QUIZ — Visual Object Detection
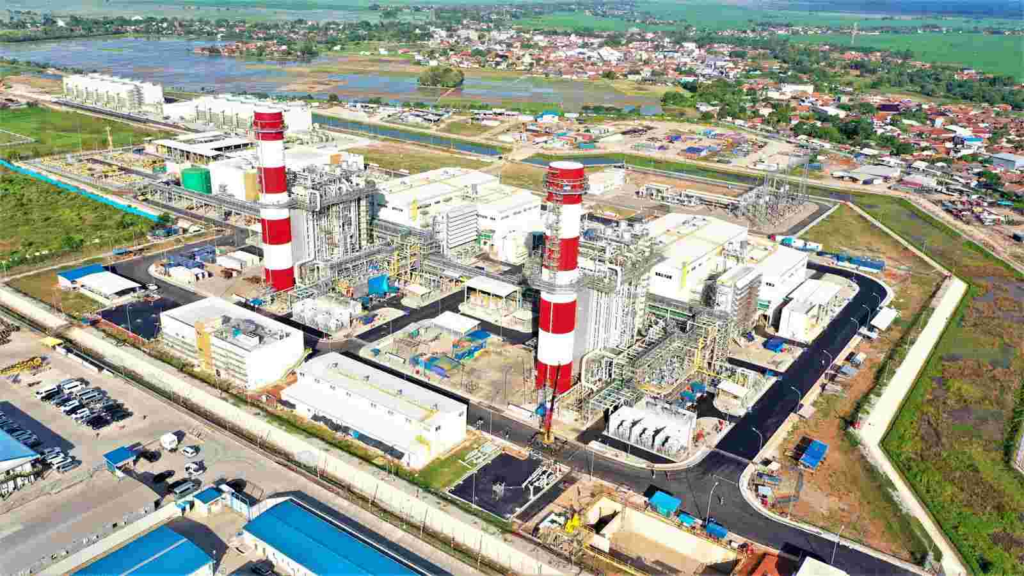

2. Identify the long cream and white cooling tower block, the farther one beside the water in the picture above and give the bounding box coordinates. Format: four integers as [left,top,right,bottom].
[62,72,168,117]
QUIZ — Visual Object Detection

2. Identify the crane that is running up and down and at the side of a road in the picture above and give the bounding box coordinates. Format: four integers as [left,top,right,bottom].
[528,365,558,452]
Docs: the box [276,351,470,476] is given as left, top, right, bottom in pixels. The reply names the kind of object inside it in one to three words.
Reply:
warehouse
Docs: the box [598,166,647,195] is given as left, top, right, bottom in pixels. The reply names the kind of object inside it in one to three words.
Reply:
building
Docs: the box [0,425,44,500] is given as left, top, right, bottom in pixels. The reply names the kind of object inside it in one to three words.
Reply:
building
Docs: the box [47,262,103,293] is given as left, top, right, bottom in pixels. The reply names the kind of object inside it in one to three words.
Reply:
shed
